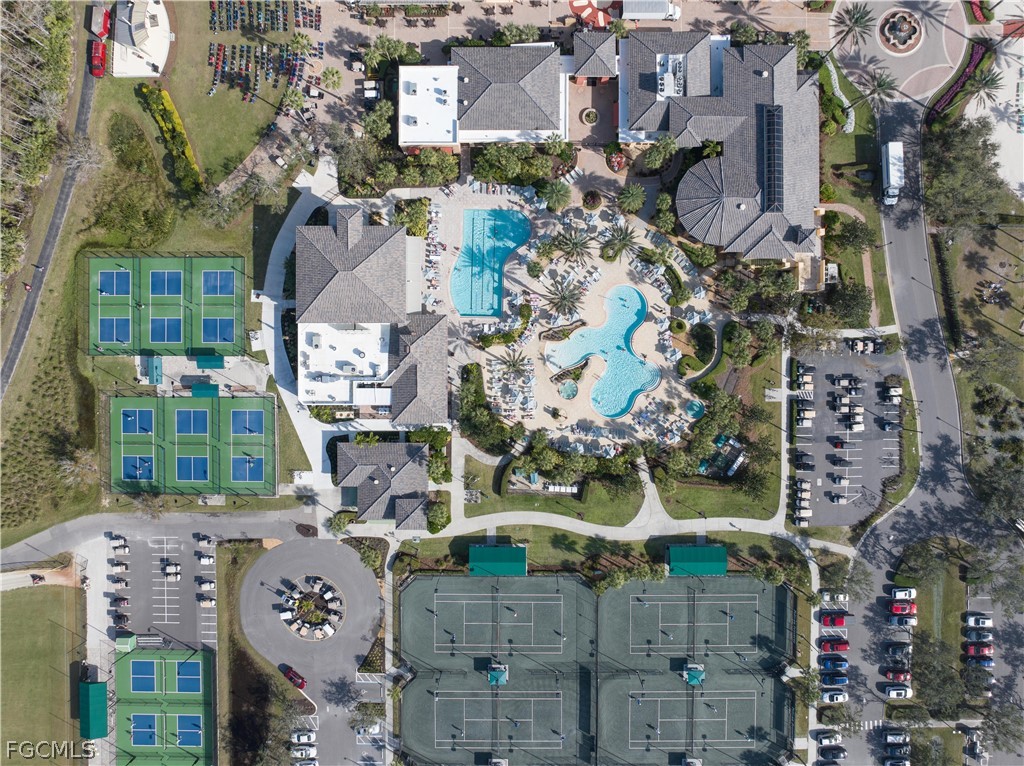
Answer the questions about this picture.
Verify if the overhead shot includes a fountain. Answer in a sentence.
Yes, looking at the shot, I can spot a fountain.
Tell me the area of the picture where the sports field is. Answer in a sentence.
Look in the bottom left portion of the view to spot the sports field.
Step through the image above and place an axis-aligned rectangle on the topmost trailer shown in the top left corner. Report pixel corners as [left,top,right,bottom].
[89,3,112,44]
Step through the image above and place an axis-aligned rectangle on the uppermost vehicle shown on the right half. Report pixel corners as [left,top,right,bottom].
[621,0,678,23]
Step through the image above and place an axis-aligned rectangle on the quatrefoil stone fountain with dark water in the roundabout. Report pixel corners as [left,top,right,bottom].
[876,6,927,56]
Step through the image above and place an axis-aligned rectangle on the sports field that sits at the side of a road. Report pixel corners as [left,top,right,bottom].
[0,585,66,766]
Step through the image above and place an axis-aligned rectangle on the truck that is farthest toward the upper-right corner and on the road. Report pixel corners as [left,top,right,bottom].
[880,144,904,205]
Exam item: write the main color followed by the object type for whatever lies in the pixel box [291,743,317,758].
white car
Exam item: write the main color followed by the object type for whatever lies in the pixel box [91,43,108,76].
red vehicle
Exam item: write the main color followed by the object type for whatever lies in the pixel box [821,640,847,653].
red vehicle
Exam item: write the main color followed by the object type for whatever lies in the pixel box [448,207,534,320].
blue swimming pool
